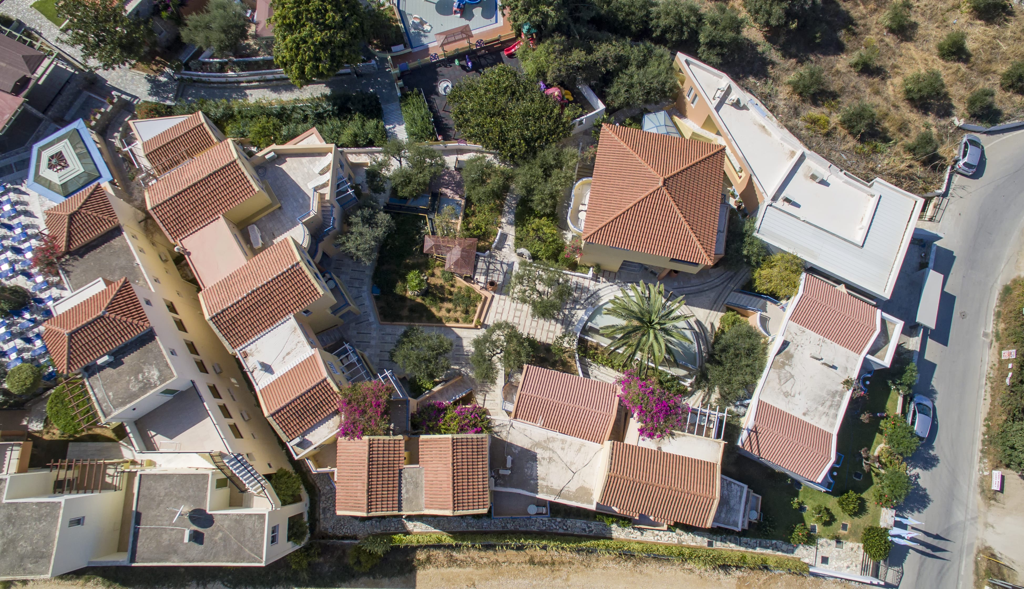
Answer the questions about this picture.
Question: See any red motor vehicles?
No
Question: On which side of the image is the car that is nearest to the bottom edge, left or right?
right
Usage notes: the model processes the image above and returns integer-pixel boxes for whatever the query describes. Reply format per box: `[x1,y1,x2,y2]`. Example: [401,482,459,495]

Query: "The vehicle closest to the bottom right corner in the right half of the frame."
[905,395,934,442]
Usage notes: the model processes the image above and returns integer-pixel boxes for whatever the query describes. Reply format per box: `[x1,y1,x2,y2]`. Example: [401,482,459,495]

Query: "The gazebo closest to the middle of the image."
[423,235,479,283]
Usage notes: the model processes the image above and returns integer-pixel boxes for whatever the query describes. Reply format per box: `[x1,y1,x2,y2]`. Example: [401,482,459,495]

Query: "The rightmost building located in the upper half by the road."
[674,52,925,304]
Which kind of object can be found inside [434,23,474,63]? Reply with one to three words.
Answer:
gazebo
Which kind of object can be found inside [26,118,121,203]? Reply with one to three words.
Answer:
building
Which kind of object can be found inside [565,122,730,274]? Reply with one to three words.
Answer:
house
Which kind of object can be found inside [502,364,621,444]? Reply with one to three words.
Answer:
house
